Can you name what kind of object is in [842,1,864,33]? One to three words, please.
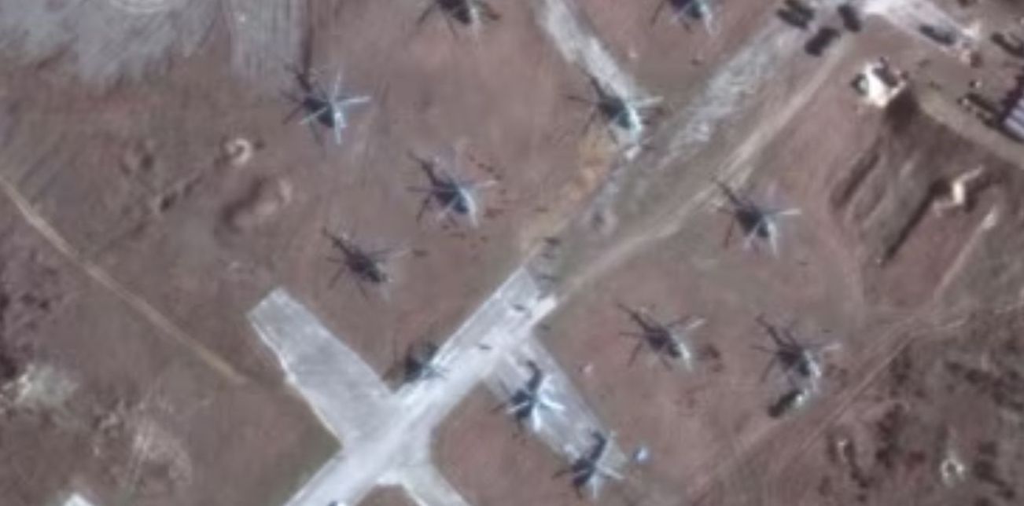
truck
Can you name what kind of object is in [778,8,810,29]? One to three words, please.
truck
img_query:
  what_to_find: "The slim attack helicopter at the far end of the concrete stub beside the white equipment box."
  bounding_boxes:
[568,429,623,495]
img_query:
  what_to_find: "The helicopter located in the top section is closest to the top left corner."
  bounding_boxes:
[303,62,369,138]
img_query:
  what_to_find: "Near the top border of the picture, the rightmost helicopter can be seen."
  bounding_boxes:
[672,0,712,26]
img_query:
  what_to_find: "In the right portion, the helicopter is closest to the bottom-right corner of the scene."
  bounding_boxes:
[771,312,839,382]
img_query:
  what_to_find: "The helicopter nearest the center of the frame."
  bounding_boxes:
[425,153,495,221]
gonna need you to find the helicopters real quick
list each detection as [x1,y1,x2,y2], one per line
[771,312,839,382]
[303,62,369,138]
[568,429,623,495]
[338,222,407,291]
[593,65,663,137]
[401,335,457,398]
[729,179,798,248]
[672,0,712,26]
[508,364,564,430]
[633,296,702,363]
[436,0,476,31]
[425,153,495,221]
